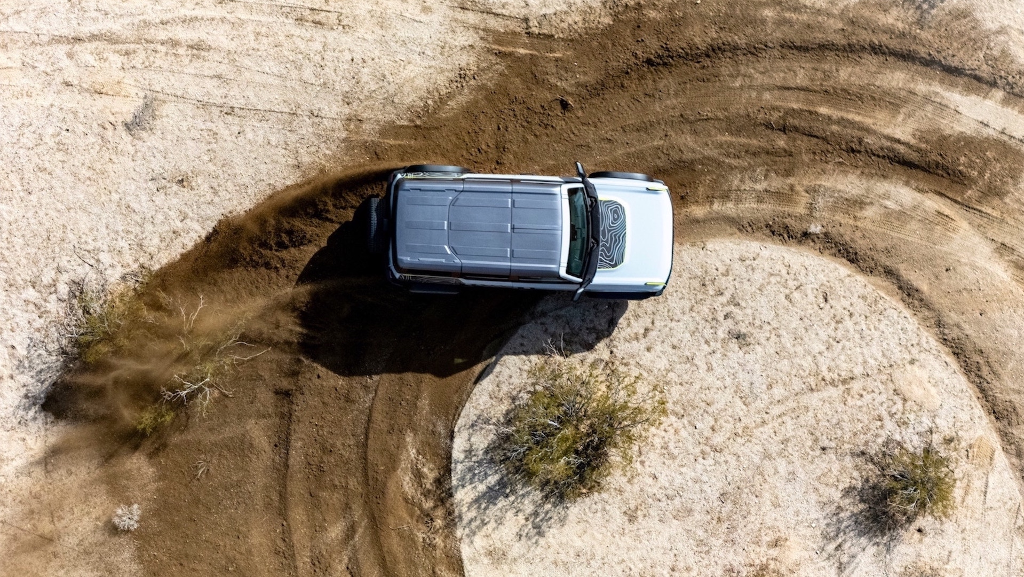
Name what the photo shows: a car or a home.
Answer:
car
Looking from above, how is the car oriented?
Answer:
from left to right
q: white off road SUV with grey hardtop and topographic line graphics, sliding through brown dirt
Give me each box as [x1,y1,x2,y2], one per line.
[369,161,674,302]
